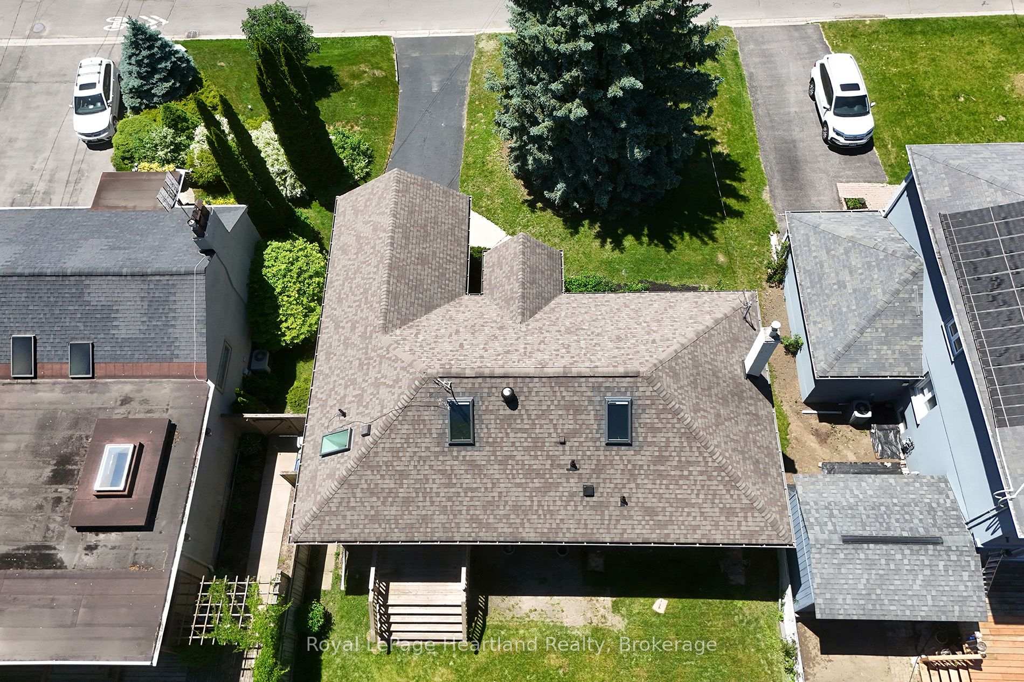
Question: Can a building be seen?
Yes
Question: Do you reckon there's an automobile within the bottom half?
No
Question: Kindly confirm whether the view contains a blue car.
No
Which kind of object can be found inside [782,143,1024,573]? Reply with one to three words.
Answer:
house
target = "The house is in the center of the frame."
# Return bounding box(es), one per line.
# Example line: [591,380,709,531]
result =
[287,169,797,590]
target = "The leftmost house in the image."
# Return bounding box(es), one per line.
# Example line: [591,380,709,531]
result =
[0,170,256,675]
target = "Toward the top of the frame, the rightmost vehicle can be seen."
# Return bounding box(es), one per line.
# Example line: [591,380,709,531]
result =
[807,56,877,146]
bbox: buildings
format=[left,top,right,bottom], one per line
[0,170,256,675]
[782,143,1024,573]
[287,169,797,590]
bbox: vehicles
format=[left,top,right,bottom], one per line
[63,53,123,141]
[807,56,877,146]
